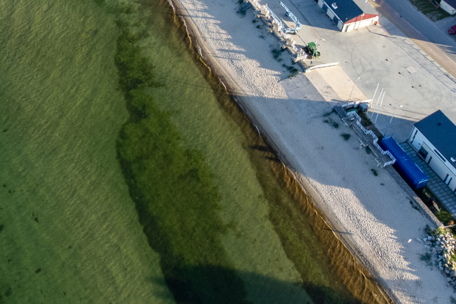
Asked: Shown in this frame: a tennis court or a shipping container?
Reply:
shipping container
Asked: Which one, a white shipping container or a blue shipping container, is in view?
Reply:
blue shipping container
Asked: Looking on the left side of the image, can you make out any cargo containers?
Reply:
No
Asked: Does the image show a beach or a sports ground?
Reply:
beach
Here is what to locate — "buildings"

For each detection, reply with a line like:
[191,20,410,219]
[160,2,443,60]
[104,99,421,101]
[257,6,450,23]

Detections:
[438,0,456,15]
[317,0,379,30]
[409,110,456,190]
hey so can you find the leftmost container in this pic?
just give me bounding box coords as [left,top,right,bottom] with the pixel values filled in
[378,136,409,167]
